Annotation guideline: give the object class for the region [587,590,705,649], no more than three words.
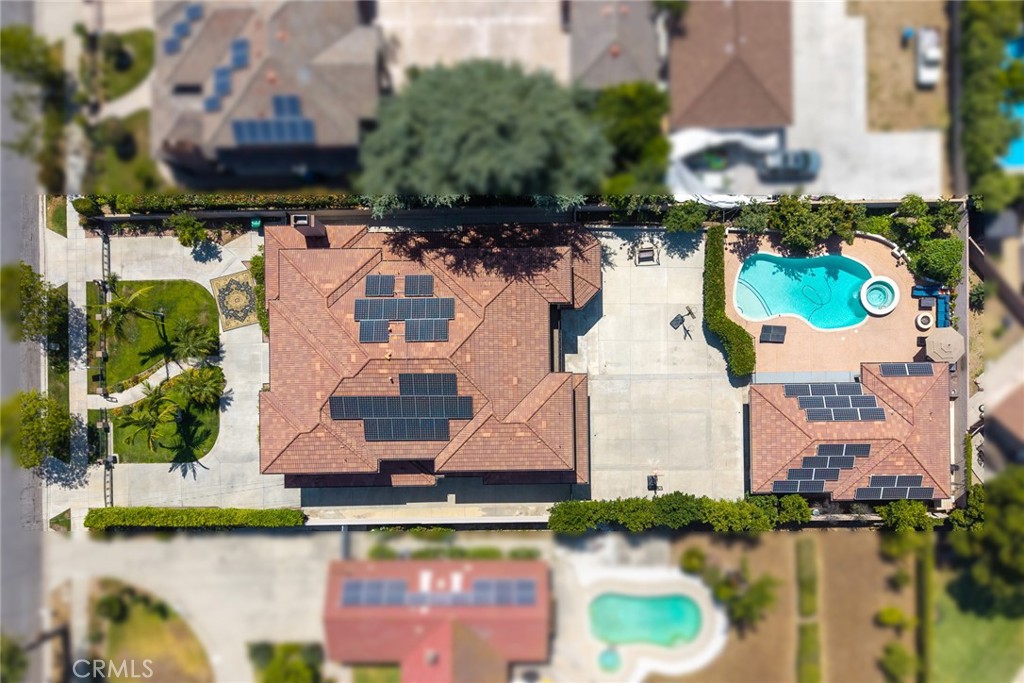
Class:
swimming pool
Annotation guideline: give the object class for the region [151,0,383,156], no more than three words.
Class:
house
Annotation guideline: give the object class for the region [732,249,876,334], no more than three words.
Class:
swimming pool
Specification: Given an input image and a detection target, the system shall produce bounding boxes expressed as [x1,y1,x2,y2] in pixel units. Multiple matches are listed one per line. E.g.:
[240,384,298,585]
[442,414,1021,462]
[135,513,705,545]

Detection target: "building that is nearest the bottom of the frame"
[324,554,551,683]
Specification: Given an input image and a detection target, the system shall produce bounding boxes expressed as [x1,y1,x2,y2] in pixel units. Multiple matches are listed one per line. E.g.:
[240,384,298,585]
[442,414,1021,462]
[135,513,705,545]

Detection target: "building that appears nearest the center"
[259,214,601,490]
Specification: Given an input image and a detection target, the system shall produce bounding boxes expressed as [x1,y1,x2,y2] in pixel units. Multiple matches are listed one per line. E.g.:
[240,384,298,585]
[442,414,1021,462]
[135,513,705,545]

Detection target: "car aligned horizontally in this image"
[754,153,818,183]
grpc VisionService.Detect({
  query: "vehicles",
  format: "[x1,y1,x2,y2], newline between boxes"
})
[912,27,946,89]
[754,153,818,183]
